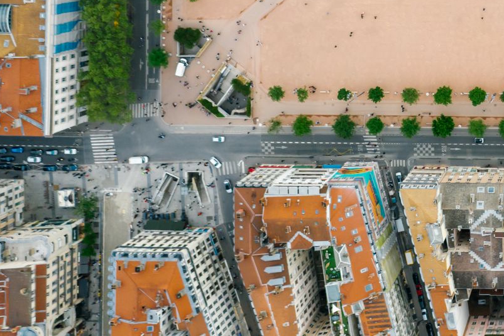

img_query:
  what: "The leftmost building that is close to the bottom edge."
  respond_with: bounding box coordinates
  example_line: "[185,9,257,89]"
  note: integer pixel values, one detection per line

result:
[0,217,83,336]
